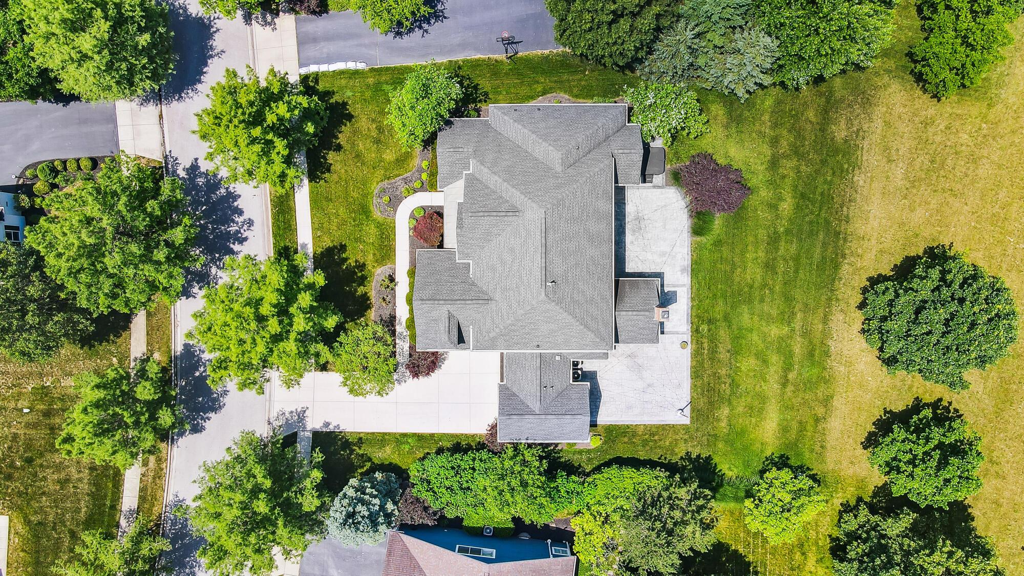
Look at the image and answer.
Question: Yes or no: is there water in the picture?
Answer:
No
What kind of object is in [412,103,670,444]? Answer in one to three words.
house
